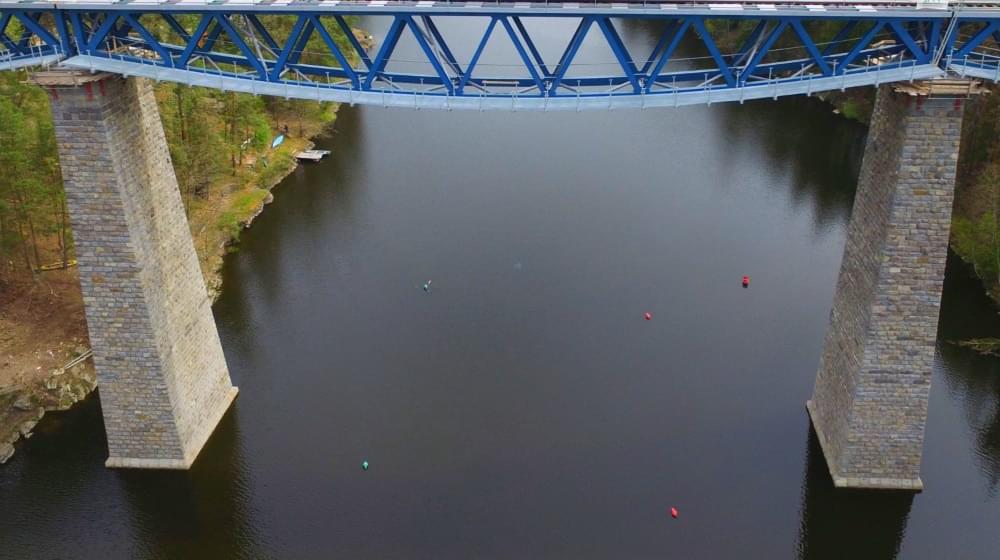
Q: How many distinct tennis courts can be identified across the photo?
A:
none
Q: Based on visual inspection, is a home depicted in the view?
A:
No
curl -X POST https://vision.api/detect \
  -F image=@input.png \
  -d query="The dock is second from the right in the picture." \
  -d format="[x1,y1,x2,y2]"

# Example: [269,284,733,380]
[294,150,333,162]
